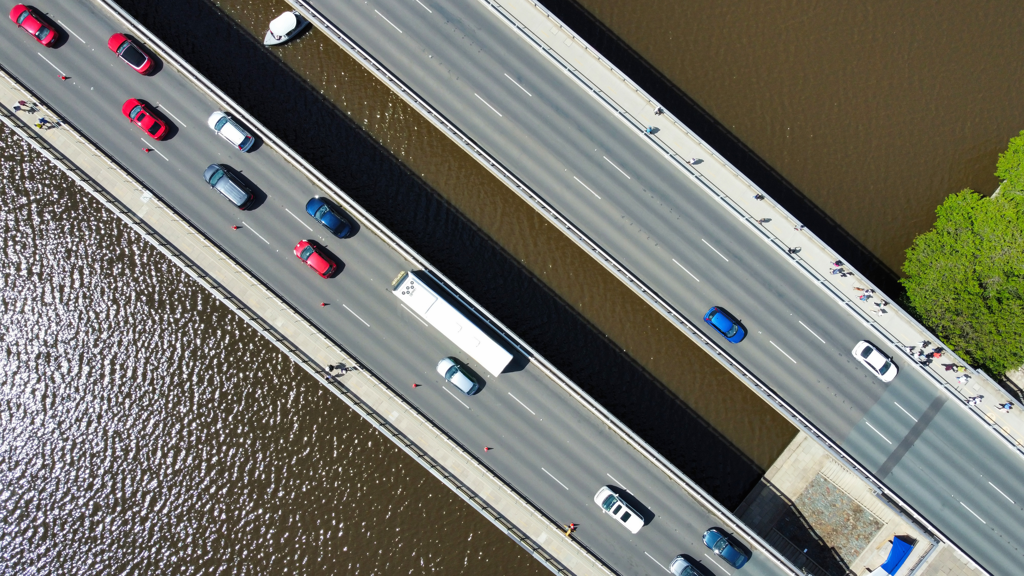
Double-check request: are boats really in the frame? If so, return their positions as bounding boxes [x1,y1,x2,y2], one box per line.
[265,12,313,51]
